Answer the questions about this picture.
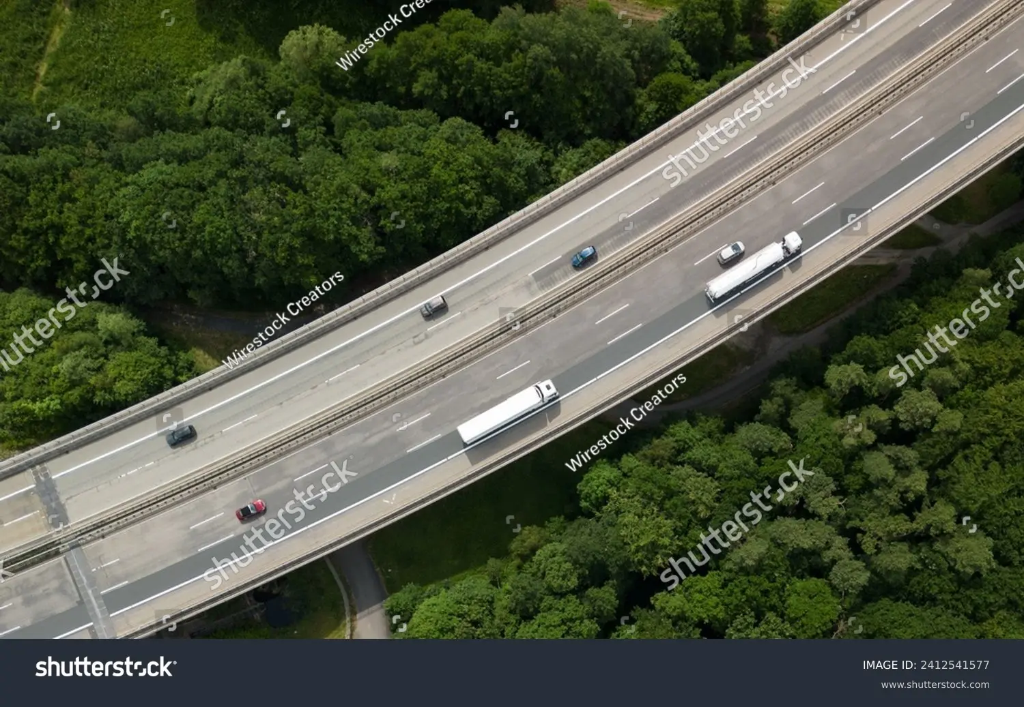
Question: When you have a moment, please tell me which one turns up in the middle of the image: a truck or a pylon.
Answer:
truck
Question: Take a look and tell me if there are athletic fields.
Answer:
No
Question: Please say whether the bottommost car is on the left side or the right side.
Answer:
left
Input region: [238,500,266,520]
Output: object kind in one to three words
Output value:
car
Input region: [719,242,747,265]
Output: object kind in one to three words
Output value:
car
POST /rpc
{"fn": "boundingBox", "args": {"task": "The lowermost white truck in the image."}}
[457,377,560,445]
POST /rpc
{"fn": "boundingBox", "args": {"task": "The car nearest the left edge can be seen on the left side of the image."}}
[166,425,198,447]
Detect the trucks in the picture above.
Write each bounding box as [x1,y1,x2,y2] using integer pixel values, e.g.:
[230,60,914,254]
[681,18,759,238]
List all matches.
[705,230,803,303]
[457,377,560,445]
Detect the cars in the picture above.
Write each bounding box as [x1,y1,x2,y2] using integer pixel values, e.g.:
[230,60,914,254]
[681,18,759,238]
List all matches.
[166,425,198,447]
[419,296,450,320]
[570,246,598,268]
[719,242,747,265]
[238,500,266,520]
